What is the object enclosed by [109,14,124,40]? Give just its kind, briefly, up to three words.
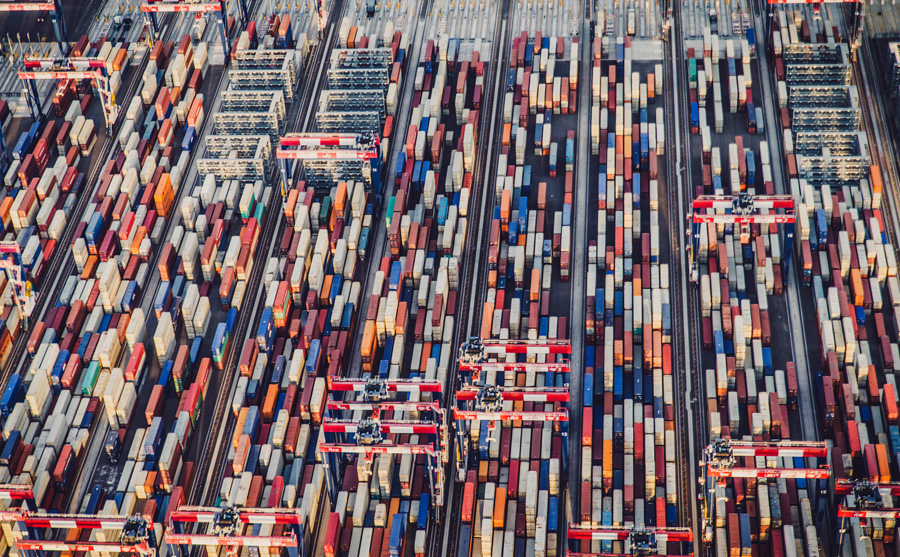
vehicle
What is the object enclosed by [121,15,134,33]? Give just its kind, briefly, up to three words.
vehicle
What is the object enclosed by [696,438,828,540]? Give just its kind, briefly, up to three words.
container crane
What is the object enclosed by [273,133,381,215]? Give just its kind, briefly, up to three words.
container crane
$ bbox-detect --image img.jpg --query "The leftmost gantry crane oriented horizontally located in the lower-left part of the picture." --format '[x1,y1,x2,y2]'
[26,509,163,557]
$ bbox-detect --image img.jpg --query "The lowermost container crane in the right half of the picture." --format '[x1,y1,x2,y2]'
[569,521,694,557]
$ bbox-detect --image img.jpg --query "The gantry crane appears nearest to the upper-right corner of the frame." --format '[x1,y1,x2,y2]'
[765,0,857,57]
